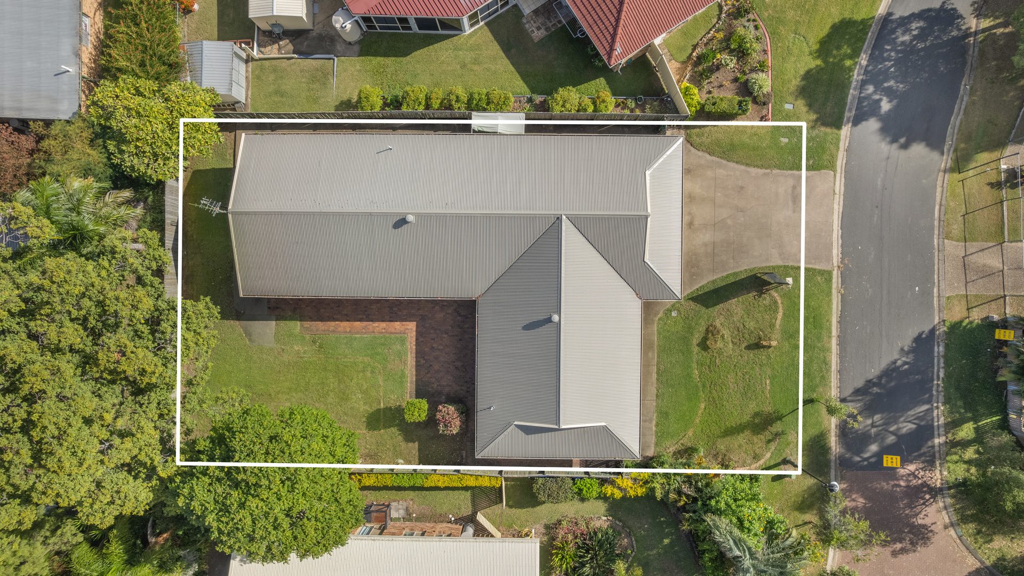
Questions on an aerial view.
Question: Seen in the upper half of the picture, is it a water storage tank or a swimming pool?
water storage tank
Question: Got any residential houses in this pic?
Yes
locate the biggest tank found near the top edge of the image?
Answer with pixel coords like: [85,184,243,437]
[333,9,370,50]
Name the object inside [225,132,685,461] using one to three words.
house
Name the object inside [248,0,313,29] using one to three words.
shed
